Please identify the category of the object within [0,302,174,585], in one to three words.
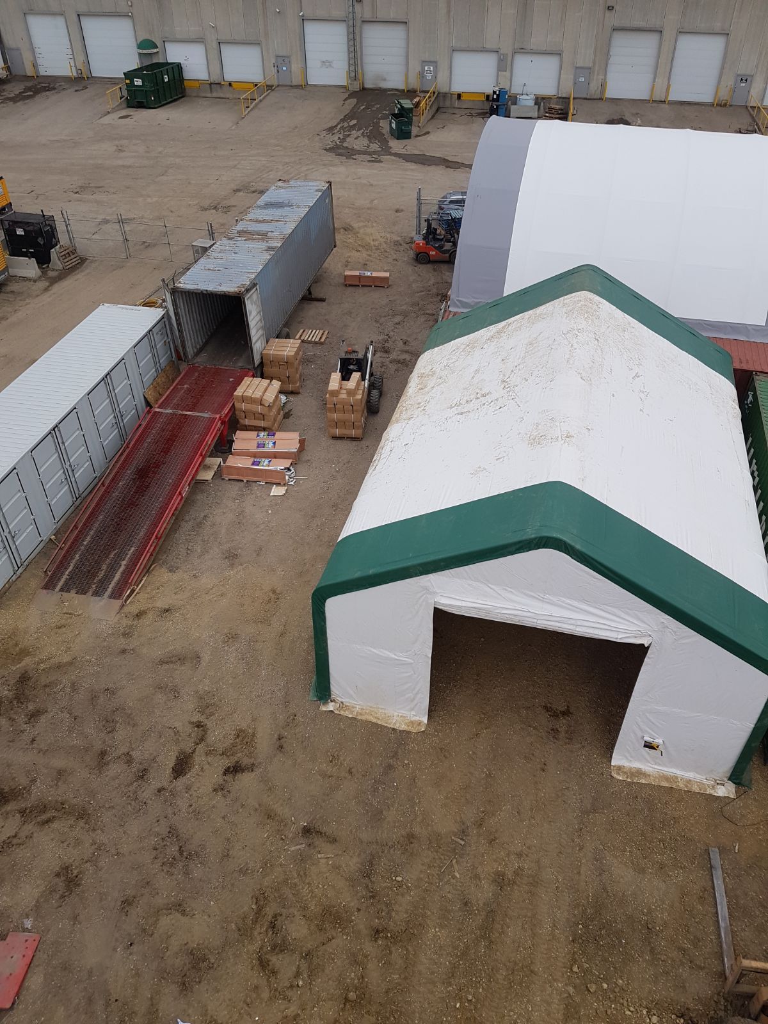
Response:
shipping container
